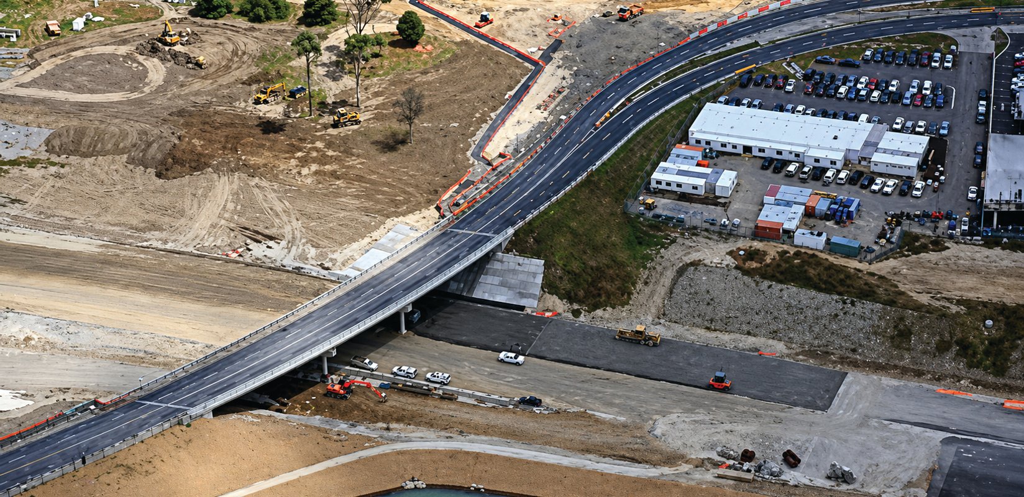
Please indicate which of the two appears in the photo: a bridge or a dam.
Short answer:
bridge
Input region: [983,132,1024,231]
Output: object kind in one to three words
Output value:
building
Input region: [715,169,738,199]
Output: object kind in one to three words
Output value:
building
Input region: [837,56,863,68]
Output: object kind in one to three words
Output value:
vehicle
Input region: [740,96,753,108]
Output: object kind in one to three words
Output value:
vehicle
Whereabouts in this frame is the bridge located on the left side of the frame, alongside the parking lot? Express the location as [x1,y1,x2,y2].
[130,221,527,422]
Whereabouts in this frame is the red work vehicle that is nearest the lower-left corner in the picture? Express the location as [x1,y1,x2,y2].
[325,378,377,406]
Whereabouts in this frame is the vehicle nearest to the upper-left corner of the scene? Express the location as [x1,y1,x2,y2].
[45,19,59,37]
